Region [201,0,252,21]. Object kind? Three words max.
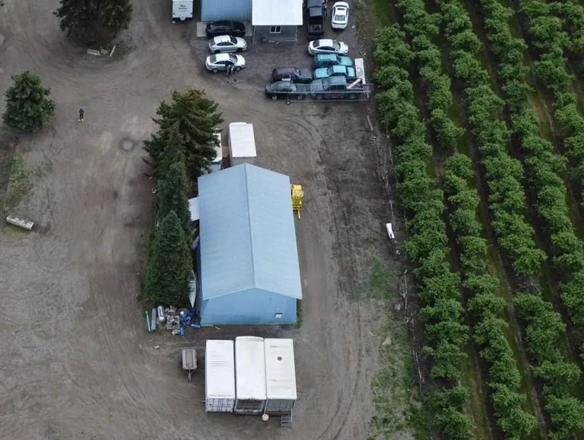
building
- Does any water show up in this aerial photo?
No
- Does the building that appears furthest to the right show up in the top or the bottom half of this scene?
top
